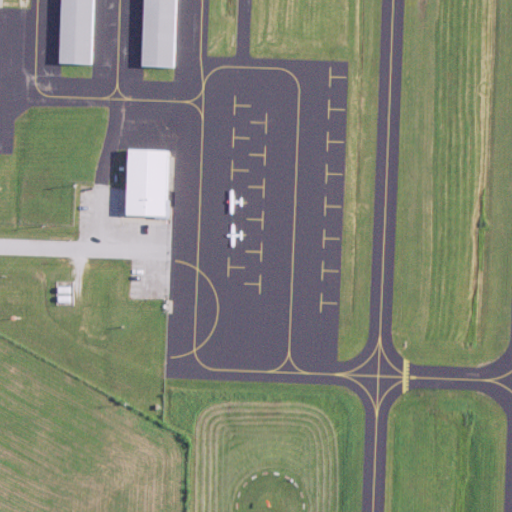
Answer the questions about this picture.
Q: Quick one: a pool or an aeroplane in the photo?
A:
aeroplane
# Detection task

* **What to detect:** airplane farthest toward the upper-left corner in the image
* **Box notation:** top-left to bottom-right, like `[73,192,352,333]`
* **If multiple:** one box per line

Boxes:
[228,190,244,216]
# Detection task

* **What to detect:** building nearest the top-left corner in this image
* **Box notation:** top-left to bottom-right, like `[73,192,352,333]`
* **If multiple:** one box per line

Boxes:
[58,0,96,66]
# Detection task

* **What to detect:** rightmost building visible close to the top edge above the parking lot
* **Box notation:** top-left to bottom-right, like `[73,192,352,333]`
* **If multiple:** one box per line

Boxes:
[141,0,179,70]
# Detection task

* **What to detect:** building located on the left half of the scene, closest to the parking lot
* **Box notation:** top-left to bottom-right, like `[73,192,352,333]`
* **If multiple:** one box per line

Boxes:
[125,148,172,220]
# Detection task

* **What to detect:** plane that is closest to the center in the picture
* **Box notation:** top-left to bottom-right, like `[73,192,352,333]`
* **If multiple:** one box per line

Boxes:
[228,224,244,248]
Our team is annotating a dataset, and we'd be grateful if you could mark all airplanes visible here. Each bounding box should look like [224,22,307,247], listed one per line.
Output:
[228,190,244,216]
[228,224,244,248]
